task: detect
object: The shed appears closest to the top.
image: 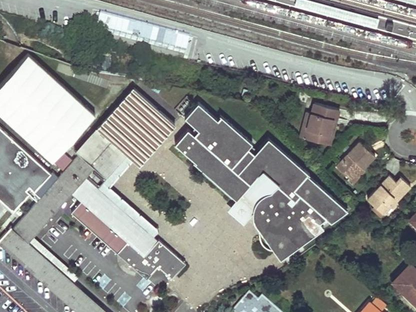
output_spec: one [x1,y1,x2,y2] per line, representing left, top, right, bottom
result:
[96,12,196,58]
